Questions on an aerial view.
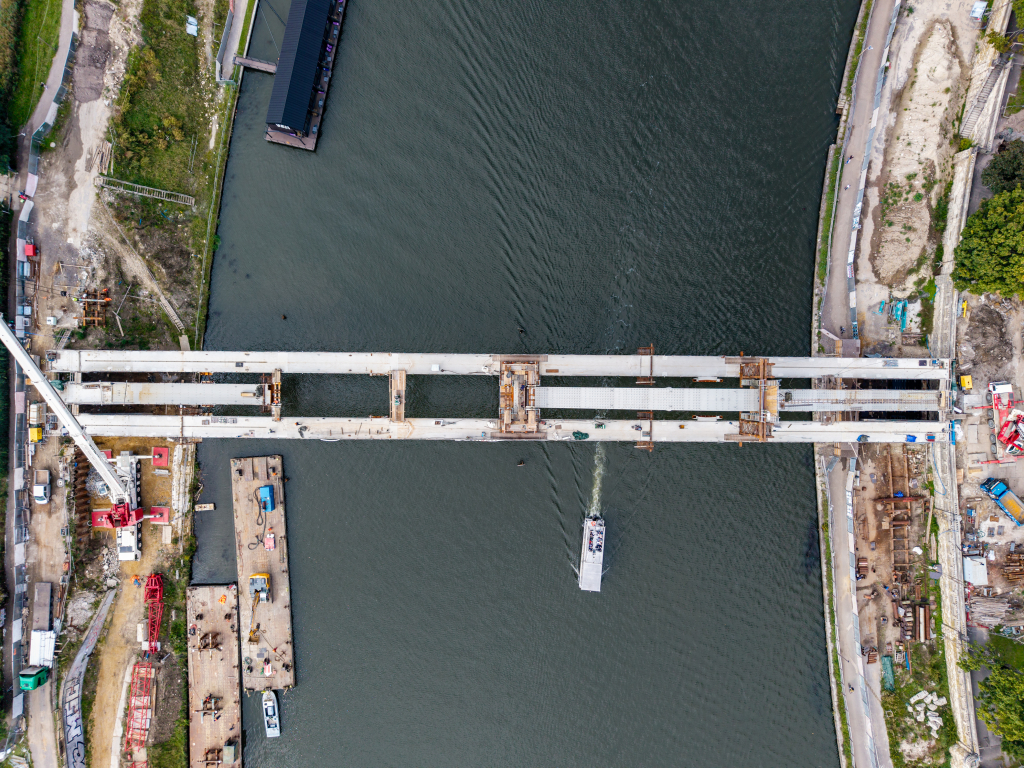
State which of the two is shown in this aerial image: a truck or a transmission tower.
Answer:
truck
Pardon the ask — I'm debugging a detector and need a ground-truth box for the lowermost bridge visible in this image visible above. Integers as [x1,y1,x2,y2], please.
[48,350,948,443]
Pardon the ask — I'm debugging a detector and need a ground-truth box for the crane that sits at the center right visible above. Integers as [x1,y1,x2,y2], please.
[963,373,1024,462]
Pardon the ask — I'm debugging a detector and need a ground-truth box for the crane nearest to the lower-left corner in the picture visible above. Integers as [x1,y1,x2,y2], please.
[0,309,172,562]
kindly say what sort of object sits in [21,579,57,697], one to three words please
truck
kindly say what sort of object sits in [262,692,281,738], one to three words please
boat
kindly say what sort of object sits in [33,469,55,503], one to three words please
truck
